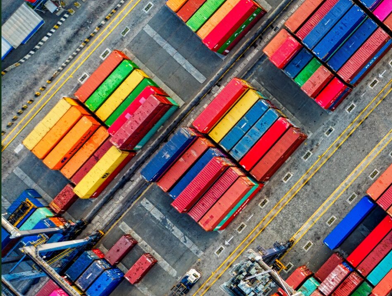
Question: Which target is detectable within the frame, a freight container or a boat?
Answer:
freight container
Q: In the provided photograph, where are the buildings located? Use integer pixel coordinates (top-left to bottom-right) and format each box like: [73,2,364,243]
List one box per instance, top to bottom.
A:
[44,0,66,16]
[0,2,50,49]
